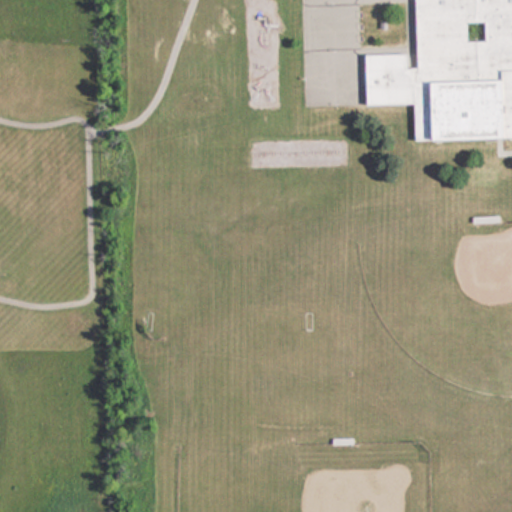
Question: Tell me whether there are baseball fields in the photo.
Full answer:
Yes, looking at the shot, I can spot a baseball field.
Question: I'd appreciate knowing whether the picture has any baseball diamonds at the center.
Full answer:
No, at the center there is no baseball diamond.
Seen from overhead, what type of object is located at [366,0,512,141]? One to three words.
building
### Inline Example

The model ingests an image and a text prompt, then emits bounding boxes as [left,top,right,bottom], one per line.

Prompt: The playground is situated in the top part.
[244,0,286,108]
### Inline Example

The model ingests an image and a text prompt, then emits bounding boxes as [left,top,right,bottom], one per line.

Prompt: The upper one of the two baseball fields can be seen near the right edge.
[455,228,512,305]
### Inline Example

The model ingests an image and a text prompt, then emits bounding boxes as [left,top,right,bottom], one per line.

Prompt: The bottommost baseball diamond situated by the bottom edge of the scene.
[302,464,412,512]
